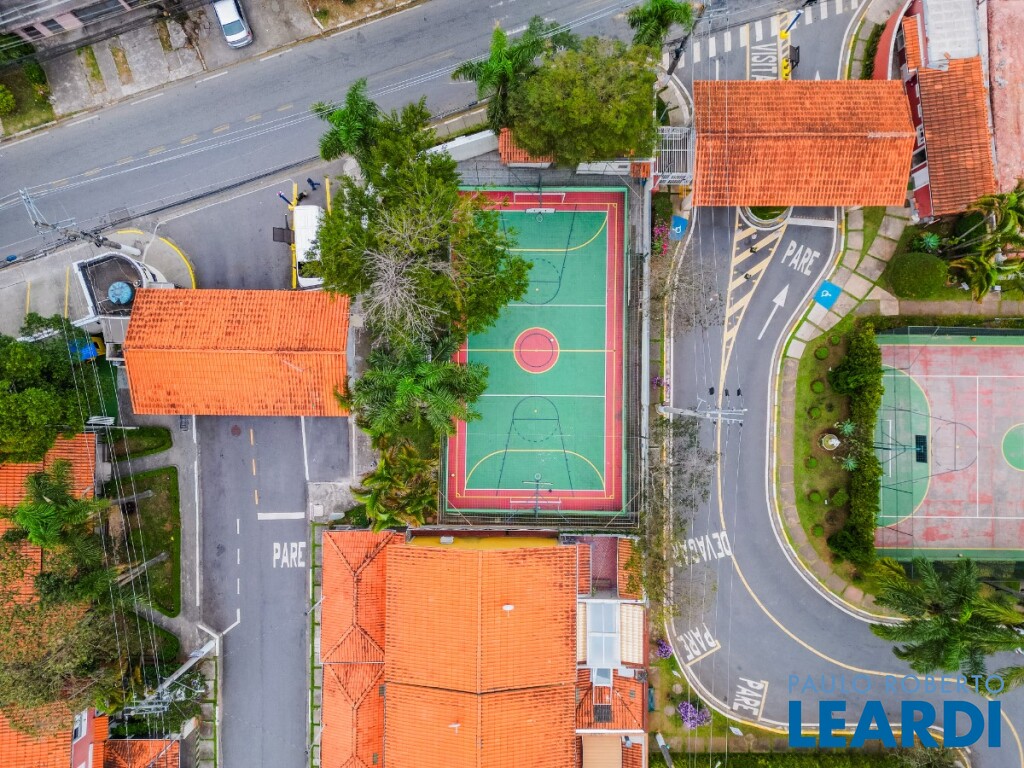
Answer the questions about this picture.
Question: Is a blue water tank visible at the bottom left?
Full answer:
No, no blue water tank is visible at the bottom left.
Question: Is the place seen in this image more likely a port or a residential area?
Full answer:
The picture captures a residential area.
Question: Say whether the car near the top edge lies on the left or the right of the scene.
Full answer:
You can find the car near the top edge on the left side of the picture.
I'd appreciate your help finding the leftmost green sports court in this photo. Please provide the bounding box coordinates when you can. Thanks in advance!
[444,186,629,517]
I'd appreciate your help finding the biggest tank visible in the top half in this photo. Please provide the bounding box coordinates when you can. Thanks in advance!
[104,281,132,306]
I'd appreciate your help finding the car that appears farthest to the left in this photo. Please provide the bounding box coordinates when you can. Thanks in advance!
[209,0,253,49]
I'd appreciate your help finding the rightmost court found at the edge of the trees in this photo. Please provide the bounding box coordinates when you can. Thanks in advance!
[869,335,1024,560]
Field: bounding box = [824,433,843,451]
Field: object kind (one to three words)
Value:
fountain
